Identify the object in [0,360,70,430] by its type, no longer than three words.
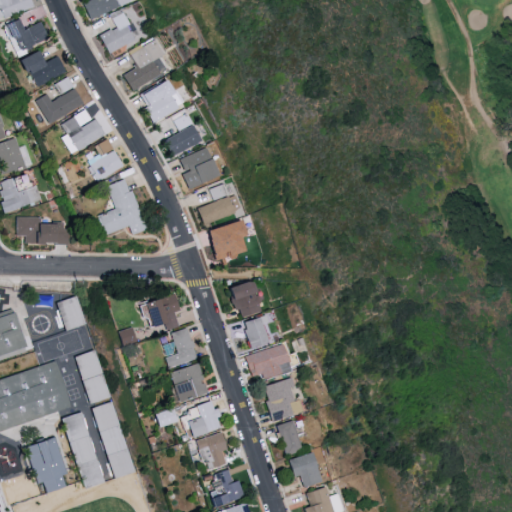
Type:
building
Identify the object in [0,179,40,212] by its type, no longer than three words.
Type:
house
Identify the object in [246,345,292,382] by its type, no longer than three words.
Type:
house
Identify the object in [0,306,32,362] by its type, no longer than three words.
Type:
building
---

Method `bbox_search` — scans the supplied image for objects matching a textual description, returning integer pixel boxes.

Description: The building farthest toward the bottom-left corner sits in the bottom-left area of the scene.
[28,438,69,494]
